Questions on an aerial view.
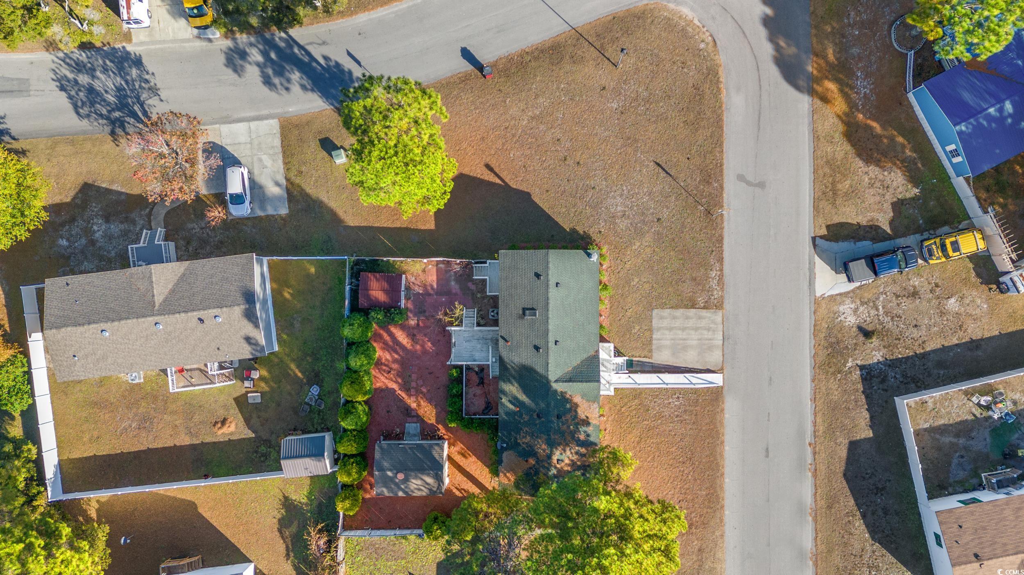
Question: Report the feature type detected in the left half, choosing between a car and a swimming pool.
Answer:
car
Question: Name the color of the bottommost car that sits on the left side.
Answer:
white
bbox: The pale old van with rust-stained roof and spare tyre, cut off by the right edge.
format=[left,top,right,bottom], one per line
[999,266,1024,297]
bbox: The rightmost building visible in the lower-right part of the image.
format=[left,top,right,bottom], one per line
[917,482,1024,575]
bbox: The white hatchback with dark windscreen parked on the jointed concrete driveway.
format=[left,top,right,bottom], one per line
[223,163,251,215]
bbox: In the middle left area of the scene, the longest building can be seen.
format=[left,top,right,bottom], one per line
[43,252,280,383]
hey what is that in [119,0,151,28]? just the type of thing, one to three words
van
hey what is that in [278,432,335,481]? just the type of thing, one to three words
shed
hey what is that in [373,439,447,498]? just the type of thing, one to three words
shed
